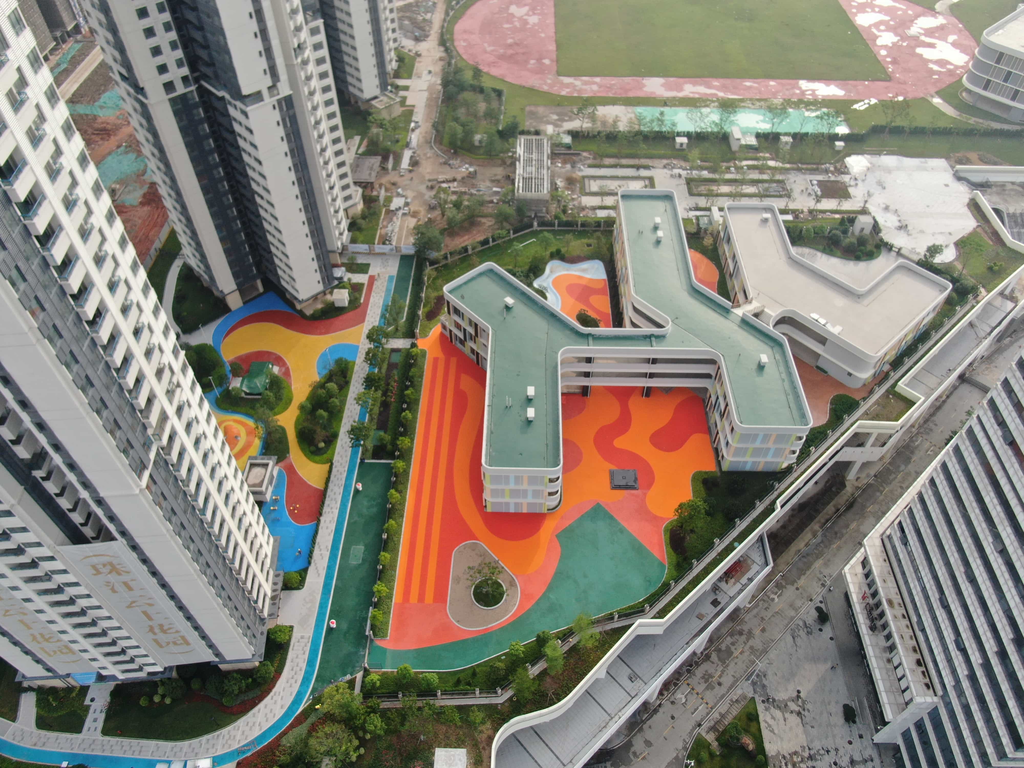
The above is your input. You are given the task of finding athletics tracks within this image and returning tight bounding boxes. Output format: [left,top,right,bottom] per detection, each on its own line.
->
[454,0,977,100]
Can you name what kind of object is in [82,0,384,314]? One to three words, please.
building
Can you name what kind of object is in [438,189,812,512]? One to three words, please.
building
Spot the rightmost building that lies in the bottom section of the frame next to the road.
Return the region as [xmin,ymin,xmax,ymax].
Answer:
[841,321,1024,768]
